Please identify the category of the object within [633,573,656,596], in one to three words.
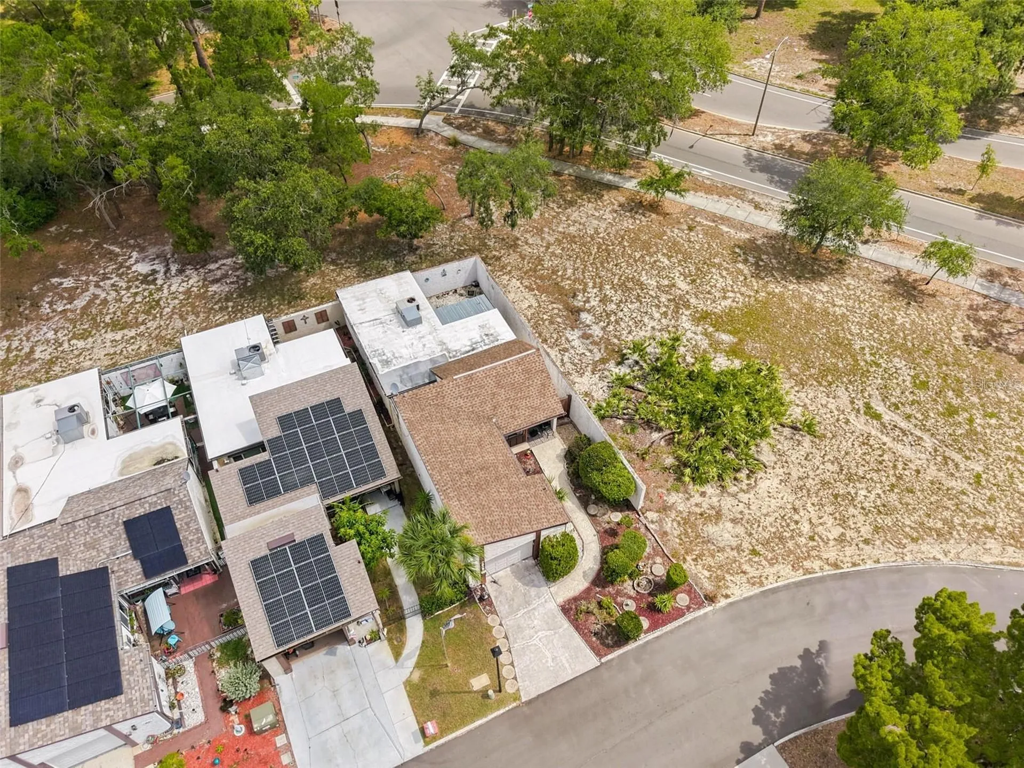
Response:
fountain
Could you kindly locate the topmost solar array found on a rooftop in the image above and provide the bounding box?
[240,407,391,512]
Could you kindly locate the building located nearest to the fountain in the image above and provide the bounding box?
[338,257,570,583]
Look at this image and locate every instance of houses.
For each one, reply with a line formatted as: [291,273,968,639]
[338,257,570,583]
[180,313,402,675]
[0,368,230,768]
